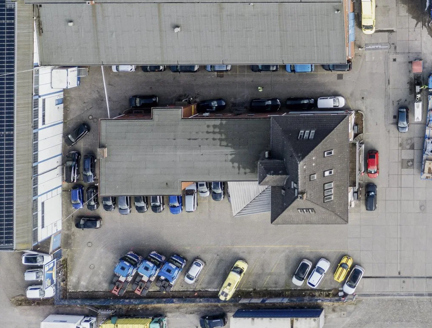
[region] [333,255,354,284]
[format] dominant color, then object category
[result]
yellow car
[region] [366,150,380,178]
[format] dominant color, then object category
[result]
red vehicle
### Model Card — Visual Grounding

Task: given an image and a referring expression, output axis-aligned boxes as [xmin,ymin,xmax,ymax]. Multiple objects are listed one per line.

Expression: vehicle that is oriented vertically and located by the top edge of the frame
[361,0,377,33]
